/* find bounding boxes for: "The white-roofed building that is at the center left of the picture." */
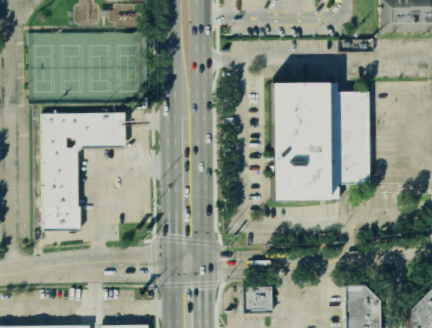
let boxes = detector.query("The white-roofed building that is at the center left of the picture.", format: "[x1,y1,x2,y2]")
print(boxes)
[38,111,126,230]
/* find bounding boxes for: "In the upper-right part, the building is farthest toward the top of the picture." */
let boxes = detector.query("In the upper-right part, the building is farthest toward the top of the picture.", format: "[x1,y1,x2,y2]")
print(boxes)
[378,0,432,34]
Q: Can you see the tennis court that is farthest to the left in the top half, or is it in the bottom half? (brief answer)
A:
top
